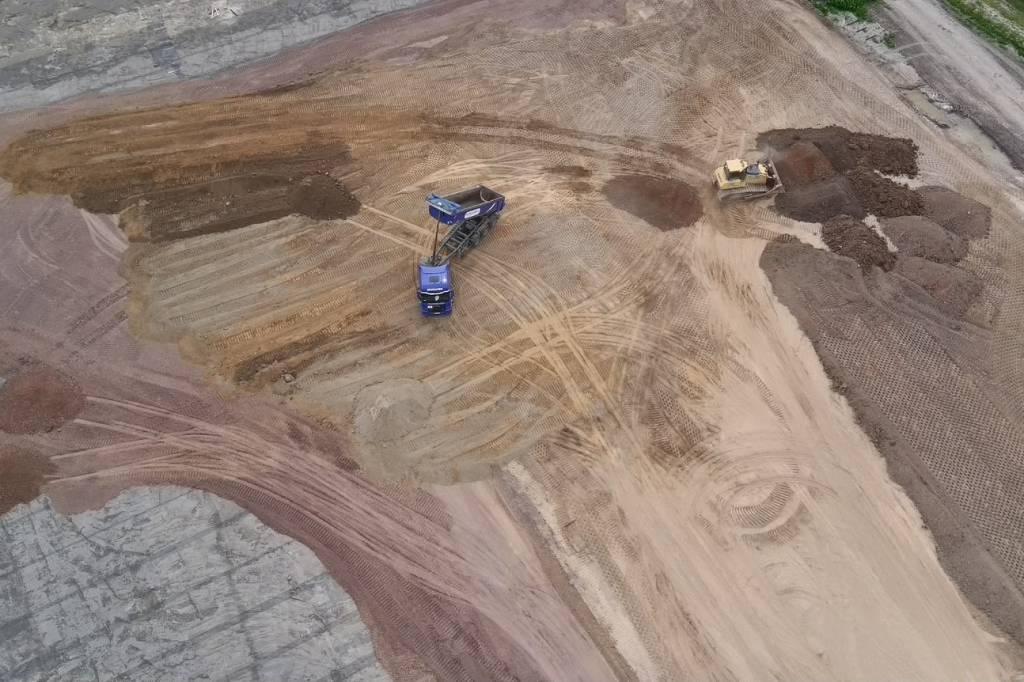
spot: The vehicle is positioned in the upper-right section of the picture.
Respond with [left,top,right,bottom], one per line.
[706,153,784,200]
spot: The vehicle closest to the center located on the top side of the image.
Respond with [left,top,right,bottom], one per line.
[415,182,505,312]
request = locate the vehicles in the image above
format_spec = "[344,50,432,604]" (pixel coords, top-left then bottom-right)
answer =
[415,182,505,312]
[706,153,784,200]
